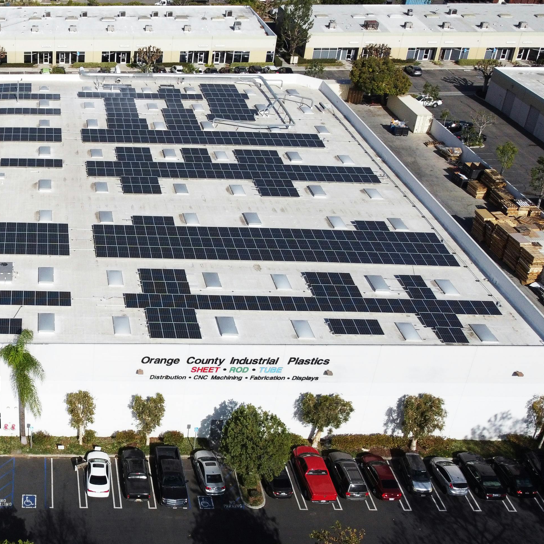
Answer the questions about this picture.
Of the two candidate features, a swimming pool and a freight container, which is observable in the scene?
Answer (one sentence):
It is a freight container that can be seen here.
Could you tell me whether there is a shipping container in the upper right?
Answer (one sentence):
Yes, a shipping container appears in the upper right.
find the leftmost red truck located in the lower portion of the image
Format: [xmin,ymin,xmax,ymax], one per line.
[291,447,333,501]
